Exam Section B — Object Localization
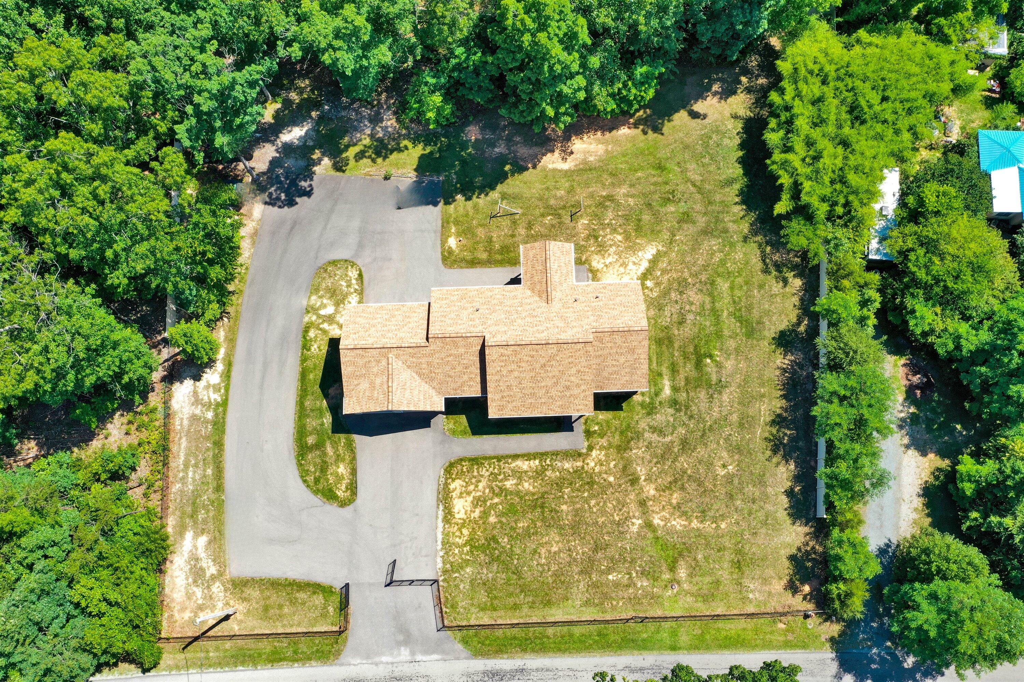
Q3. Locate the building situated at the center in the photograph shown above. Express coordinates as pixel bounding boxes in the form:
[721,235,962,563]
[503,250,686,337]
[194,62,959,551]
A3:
[337,240,648,419]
